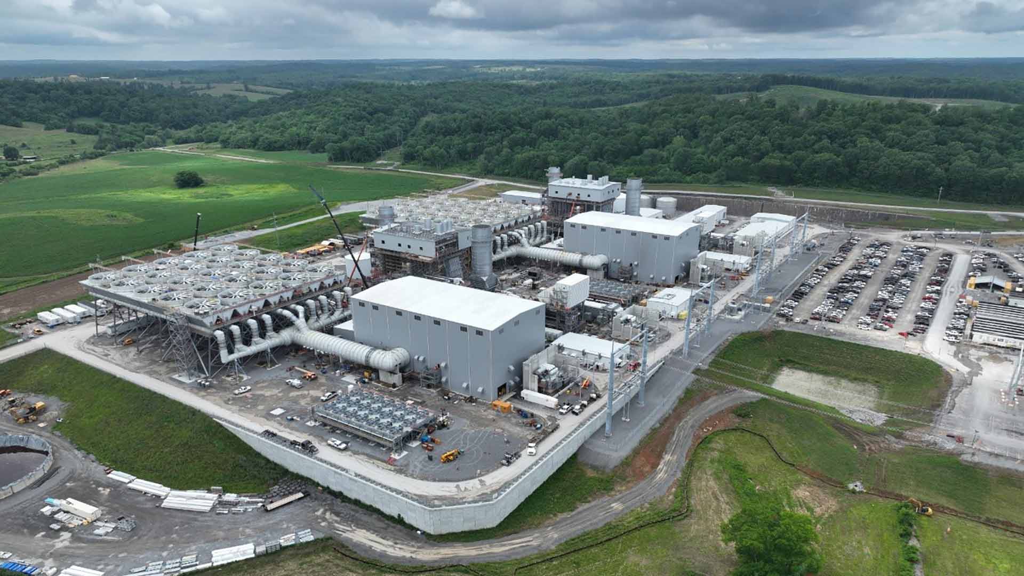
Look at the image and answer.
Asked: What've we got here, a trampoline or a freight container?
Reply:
freight container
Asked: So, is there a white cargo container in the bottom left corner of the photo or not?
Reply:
Yes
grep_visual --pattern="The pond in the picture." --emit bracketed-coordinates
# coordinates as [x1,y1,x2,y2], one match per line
[0,430,55,498]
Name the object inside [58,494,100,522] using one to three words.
shipping container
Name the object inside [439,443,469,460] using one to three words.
work vehicle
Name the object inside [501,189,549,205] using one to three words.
shed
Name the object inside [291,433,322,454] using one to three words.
truck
